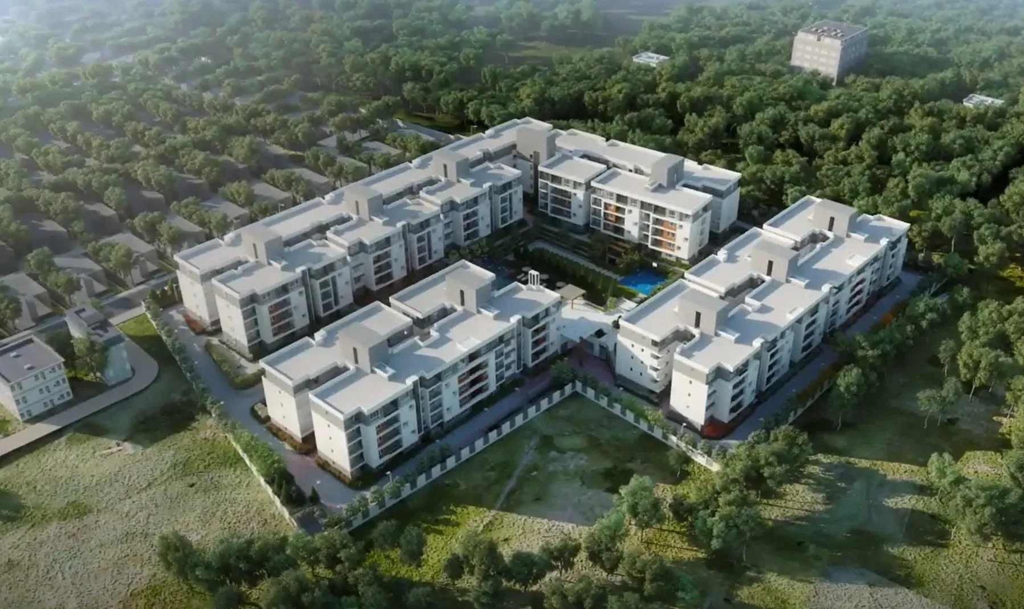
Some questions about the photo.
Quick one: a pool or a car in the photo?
pool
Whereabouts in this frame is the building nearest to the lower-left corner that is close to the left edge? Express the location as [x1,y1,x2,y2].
[0,331,75,431]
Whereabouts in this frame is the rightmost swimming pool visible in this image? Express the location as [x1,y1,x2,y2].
[619,269,669,296]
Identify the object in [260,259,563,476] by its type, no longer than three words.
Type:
building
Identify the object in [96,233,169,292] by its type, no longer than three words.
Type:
house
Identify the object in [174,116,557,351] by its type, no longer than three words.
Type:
building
